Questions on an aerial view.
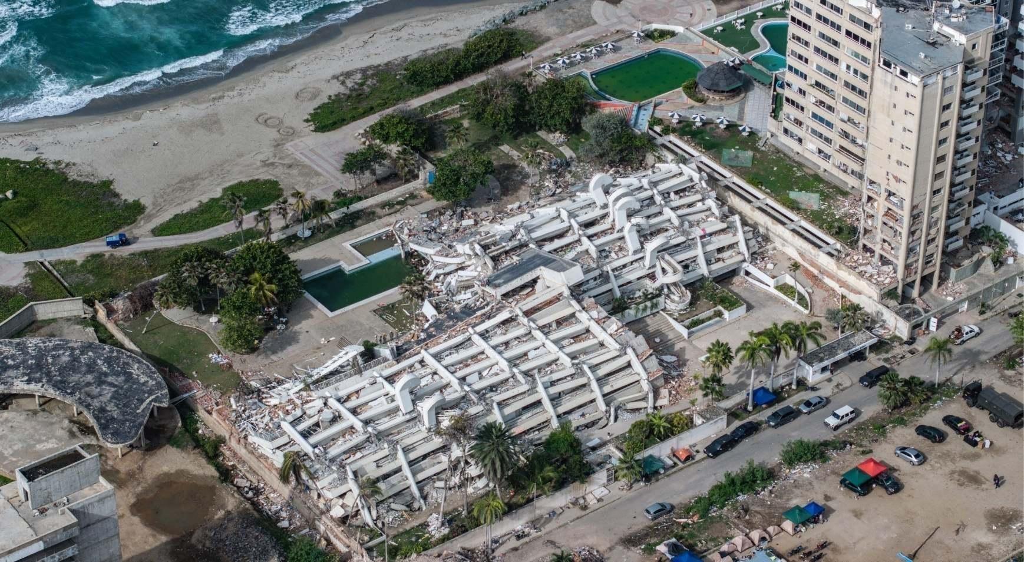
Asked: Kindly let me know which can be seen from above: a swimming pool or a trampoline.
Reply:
swimming pool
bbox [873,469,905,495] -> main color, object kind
black car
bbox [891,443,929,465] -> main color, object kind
gray car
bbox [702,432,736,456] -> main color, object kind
black car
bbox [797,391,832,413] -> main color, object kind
gray car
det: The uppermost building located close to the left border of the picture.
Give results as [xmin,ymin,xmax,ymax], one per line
[0,337,179,478]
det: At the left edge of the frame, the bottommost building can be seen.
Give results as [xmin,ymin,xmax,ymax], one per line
[0,444,122,562]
